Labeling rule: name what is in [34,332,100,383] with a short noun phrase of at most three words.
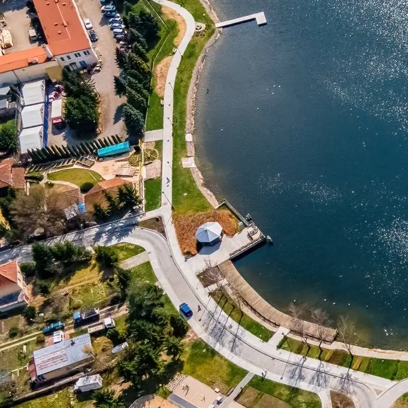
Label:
barn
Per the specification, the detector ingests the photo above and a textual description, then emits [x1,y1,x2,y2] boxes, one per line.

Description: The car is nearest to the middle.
[179,300,193,318]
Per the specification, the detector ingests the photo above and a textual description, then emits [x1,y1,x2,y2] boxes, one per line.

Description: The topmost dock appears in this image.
[217,12,268,28]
